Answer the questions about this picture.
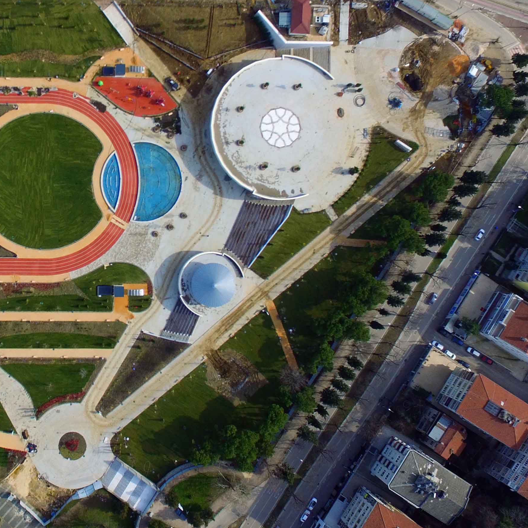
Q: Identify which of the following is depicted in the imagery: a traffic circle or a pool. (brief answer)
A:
pool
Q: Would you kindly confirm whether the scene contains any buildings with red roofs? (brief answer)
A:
Yes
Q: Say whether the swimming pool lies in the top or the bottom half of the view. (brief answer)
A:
top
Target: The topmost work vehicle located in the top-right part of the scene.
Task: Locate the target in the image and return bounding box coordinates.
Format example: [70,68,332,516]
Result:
[481,55,496,73]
